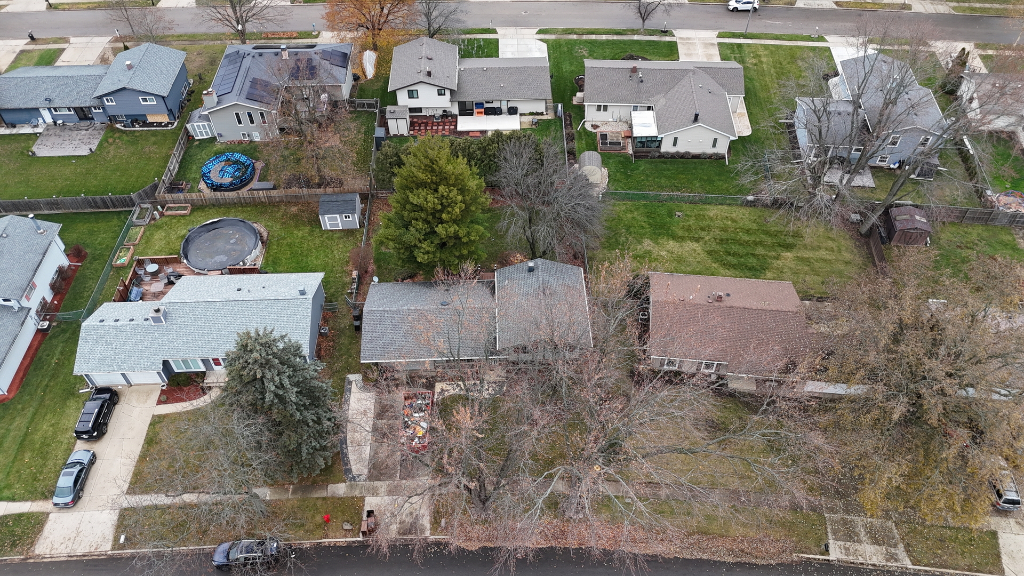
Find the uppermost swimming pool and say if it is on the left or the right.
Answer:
left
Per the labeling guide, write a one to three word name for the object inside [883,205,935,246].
shed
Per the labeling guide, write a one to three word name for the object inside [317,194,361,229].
shed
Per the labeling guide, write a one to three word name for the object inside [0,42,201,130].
house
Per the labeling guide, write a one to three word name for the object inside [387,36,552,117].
house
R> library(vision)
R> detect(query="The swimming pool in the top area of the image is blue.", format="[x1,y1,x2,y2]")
[199,149,257,188]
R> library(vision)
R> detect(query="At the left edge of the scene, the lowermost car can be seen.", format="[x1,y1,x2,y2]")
[48,448,97,506]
